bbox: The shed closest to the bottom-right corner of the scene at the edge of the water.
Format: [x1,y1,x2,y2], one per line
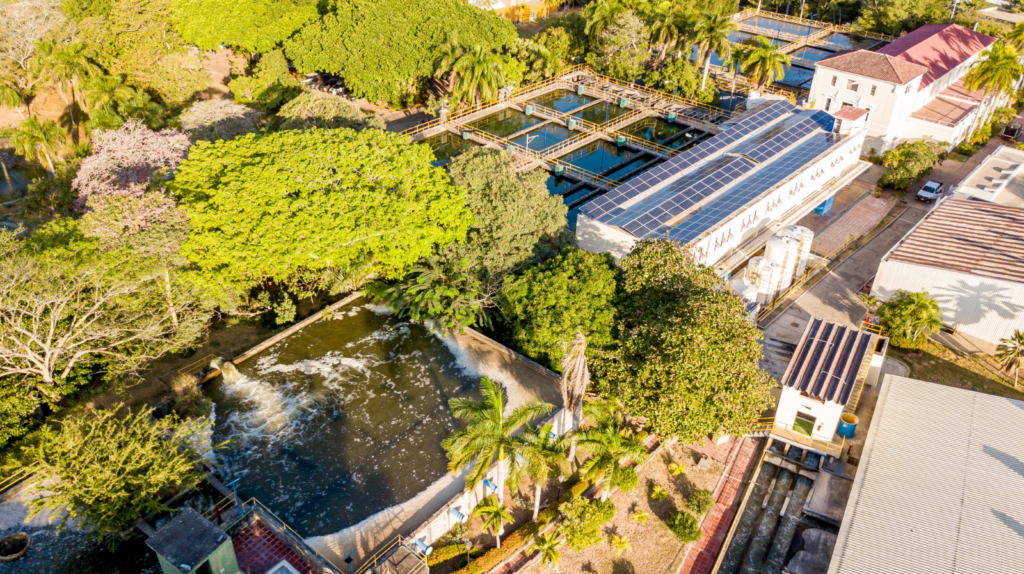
[833,376,1024,574]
